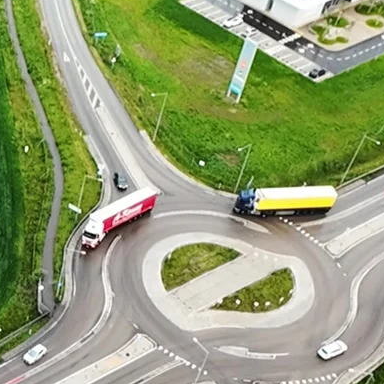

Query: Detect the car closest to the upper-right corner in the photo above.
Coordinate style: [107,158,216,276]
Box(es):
[308,67,327,79]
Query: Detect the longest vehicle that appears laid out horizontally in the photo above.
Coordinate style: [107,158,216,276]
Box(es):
[230,185,340,220]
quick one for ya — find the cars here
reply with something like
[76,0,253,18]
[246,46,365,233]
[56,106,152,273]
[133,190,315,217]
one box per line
[308,67,327,79]
[20,342,51,365]
[113,172,129,189]
[224,16,243,27]
[242,24,262,37]
[317,339,351,357]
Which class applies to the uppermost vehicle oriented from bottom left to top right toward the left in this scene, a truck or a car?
truck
